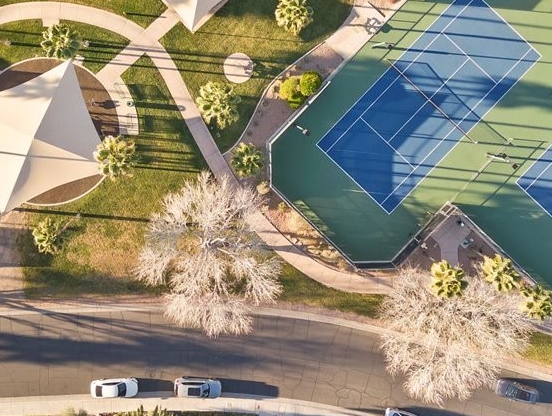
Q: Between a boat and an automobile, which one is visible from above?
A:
automobile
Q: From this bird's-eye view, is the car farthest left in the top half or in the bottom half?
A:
bottom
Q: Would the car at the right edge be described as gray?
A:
Yes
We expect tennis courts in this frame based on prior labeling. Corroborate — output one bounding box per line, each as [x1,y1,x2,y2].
[452,98,552,295]
[272,0,552,262]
